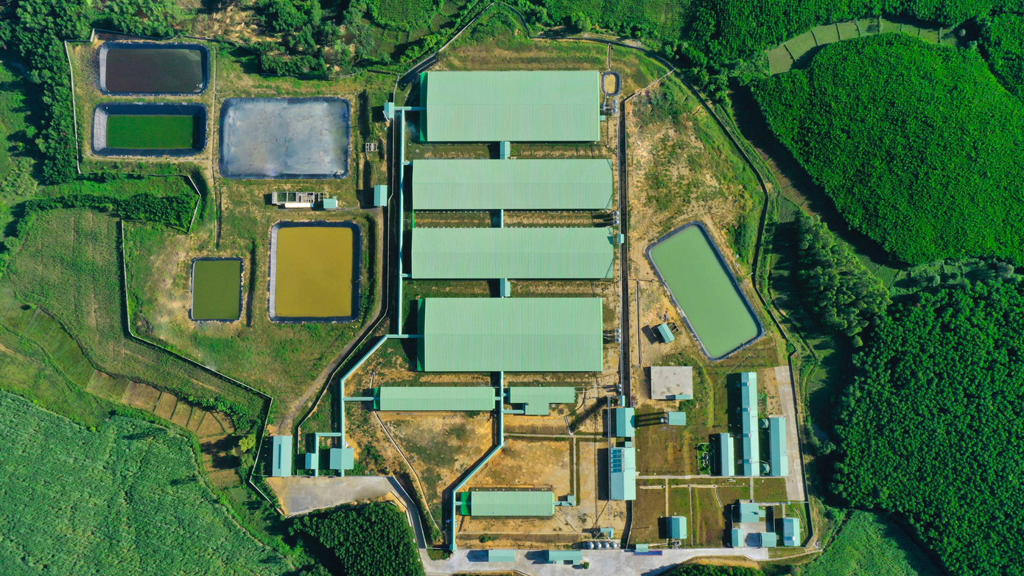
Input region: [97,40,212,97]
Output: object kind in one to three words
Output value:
pond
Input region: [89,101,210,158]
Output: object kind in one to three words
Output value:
pond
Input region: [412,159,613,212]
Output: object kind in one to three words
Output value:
barn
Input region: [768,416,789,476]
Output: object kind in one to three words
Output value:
building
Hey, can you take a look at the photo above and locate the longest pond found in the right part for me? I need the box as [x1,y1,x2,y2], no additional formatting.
[649,223,763,359]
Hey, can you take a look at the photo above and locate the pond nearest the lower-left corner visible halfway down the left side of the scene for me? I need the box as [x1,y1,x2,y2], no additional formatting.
[188,255,245,324]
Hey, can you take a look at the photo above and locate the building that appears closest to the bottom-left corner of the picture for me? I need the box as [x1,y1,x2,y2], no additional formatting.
[273,435,294,477]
